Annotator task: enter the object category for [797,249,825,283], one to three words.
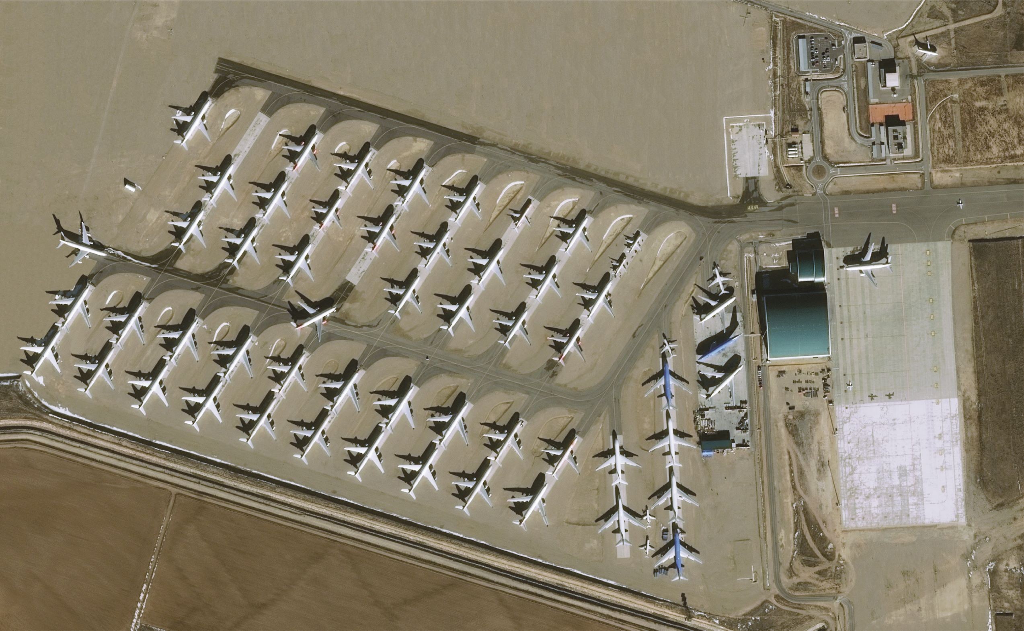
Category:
hangar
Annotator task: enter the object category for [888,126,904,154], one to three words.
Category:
building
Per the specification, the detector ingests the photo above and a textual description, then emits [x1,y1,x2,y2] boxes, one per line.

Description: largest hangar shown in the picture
[764,293,831,360]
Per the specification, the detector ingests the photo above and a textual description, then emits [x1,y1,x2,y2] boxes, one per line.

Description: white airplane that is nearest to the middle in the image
[493,311,531,350]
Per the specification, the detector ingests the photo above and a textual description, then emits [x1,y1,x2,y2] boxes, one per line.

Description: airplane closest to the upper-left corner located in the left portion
[171,99,211,150]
